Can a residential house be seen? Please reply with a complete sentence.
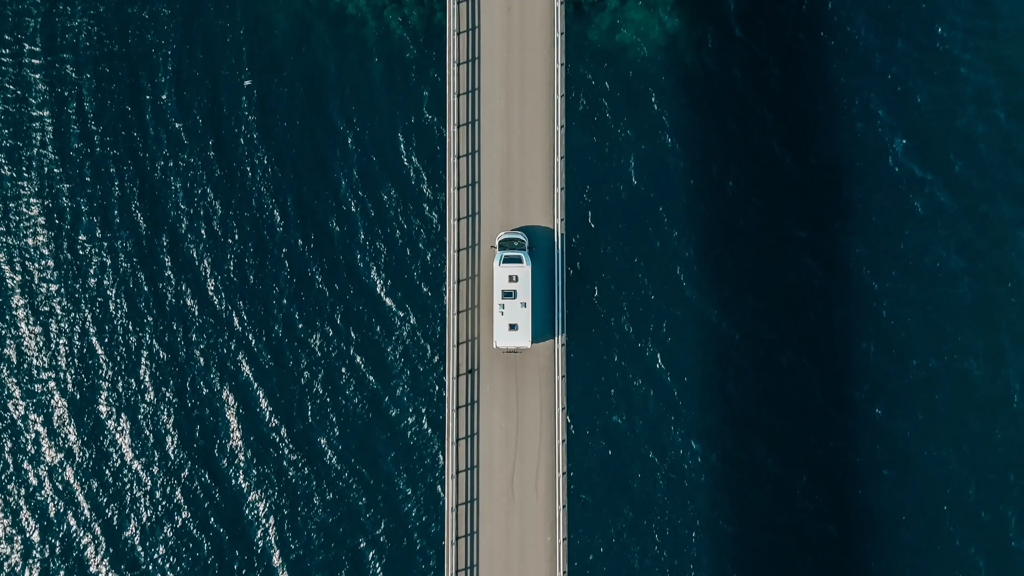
No, I can't see a single residential house in this photo.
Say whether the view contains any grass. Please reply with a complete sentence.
No, the scene doesn't show any grass.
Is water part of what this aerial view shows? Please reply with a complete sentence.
Yes, the picture does contain water.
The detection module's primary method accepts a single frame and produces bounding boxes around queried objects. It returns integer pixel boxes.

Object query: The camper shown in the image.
[490,231,534,354]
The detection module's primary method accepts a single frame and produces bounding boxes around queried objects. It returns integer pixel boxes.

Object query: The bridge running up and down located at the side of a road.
[445,0,566,576]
